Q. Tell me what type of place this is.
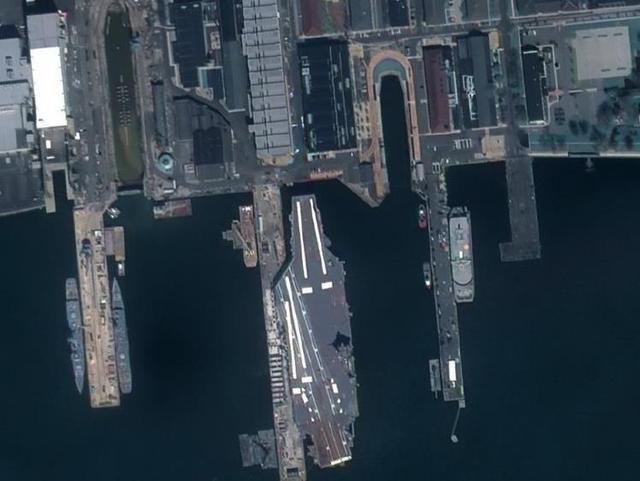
port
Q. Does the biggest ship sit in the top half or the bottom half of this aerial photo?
bottom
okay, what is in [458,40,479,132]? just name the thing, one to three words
building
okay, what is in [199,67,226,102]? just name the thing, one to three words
building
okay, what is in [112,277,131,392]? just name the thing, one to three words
ship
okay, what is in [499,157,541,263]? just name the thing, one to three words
pier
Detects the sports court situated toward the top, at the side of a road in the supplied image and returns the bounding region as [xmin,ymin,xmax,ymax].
[576,26,632,80]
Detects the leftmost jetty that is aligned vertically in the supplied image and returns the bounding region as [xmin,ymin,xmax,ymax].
[75,207,119,408]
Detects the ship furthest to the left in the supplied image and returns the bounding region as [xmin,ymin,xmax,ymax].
[66,279,84,393]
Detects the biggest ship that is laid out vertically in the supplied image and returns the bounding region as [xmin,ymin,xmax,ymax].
[273,194,359,469]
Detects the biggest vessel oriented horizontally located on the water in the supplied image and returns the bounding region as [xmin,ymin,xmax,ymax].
[153,200,191,219]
